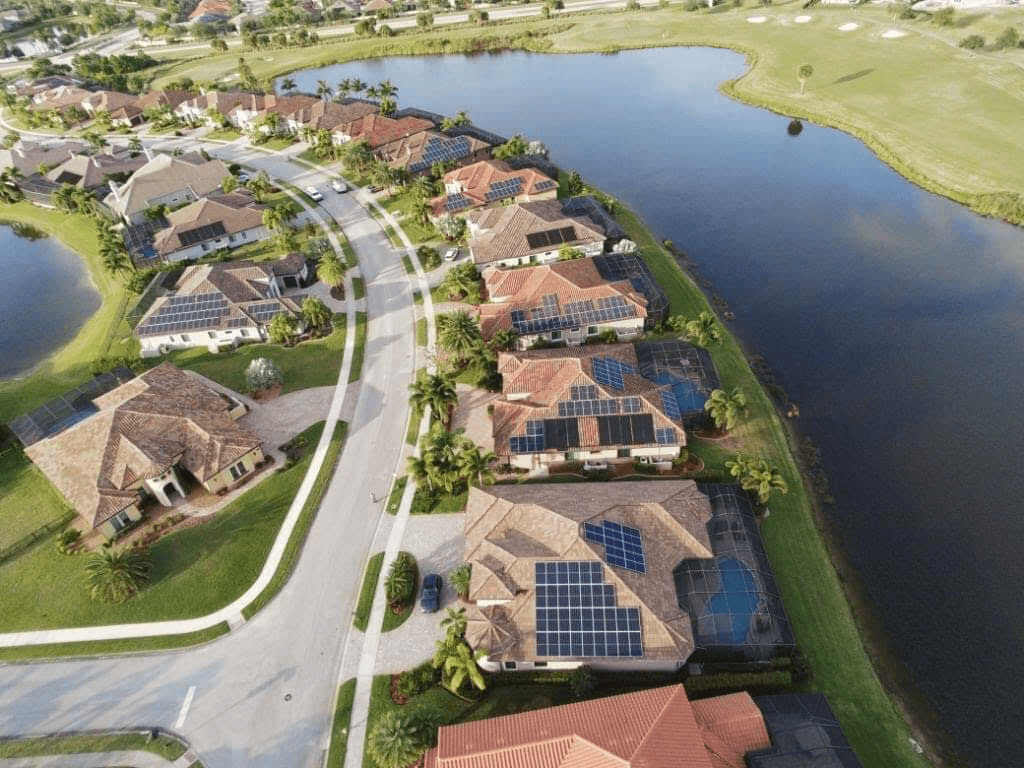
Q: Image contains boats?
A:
No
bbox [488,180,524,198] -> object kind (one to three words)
solar array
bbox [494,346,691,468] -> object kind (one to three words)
house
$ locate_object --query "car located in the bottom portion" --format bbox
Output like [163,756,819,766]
[418,568,442,611]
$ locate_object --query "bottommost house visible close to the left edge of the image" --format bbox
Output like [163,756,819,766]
[20,361,269,539]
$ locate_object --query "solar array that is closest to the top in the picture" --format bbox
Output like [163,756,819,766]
[420,134,467,167]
